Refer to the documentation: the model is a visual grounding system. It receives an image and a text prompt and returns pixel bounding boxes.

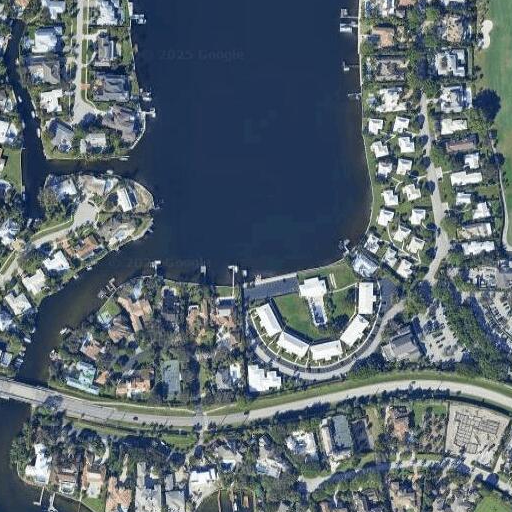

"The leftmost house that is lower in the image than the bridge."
[21,442,52,484]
